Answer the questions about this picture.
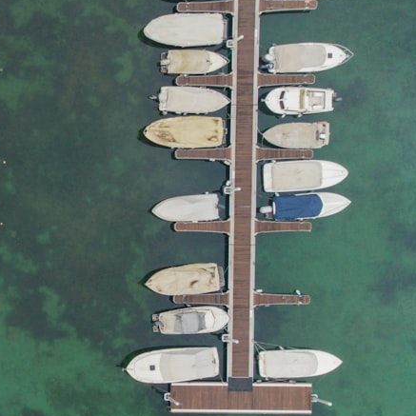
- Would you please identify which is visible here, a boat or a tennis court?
boat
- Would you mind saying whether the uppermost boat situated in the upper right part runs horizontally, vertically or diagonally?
horizontally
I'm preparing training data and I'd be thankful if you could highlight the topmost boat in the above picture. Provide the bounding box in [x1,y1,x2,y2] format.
[143,12,227,47]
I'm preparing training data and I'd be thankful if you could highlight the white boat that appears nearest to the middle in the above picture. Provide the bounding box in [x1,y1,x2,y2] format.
[152,191,220,223]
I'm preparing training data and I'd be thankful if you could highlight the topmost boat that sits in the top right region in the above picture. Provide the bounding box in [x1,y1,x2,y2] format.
[258,40,357,73]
